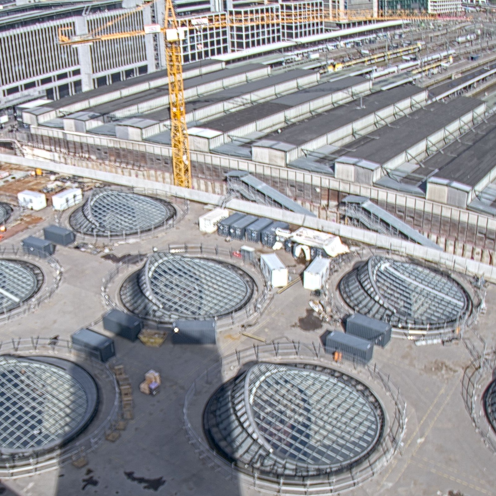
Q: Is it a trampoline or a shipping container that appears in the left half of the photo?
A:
shipping container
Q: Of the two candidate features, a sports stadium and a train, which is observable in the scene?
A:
train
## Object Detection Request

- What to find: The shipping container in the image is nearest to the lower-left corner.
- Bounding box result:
[69,325,114,361]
